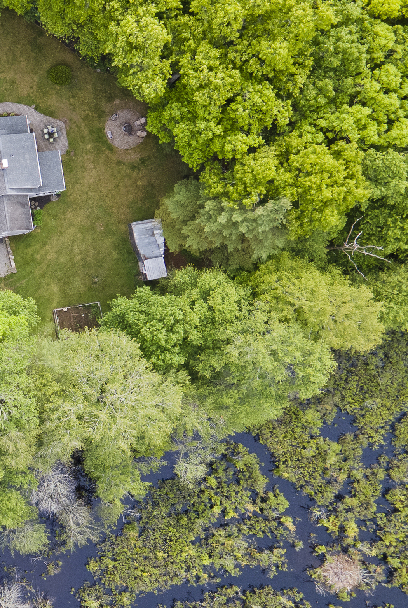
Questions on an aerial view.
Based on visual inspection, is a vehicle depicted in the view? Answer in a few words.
No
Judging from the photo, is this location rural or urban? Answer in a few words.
rural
